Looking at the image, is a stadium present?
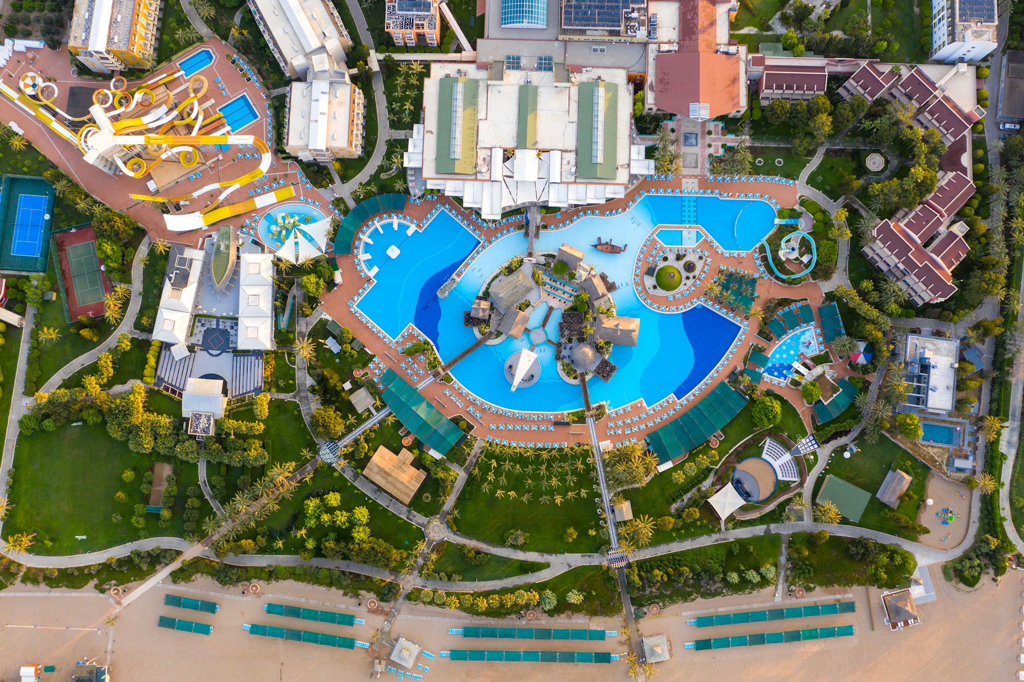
Yes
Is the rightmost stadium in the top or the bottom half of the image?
bottom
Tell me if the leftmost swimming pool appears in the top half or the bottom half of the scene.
top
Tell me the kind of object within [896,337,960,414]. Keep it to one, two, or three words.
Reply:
house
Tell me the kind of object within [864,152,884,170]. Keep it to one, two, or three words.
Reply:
gazebo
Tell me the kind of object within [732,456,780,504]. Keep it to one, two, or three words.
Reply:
stadium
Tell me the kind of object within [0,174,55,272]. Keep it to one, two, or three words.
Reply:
tennis court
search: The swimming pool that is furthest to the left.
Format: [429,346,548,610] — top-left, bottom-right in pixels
[177,48,215,79]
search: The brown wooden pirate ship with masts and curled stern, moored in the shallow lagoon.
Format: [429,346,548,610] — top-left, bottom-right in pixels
[591,236,627,253]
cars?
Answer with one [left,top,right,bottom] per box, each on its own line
[1000,134,1010,139]
[1000,123,1013,129]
